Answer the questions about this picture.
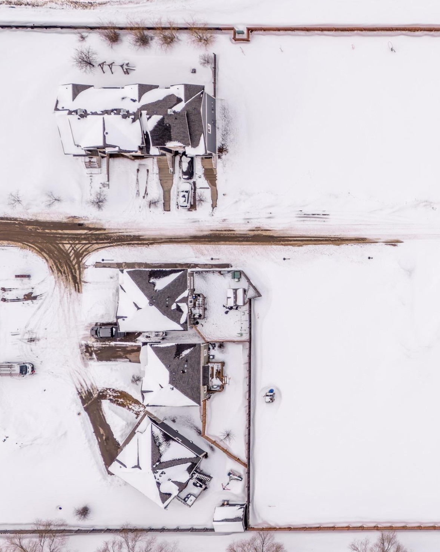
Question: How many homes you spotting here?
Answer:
4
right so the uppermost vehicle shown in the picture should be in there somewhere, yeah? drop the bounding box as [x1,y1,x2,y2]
[180,155,194,183]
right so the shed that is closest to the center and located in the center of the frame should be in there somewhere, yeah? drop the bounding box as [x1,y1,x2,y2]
[227,288,247,307]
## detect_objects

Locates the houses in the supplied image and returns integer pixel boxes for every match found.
[117,268,205,331]
[54,84,216,181]
[140,342,228,407]
[109,410,213,509]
